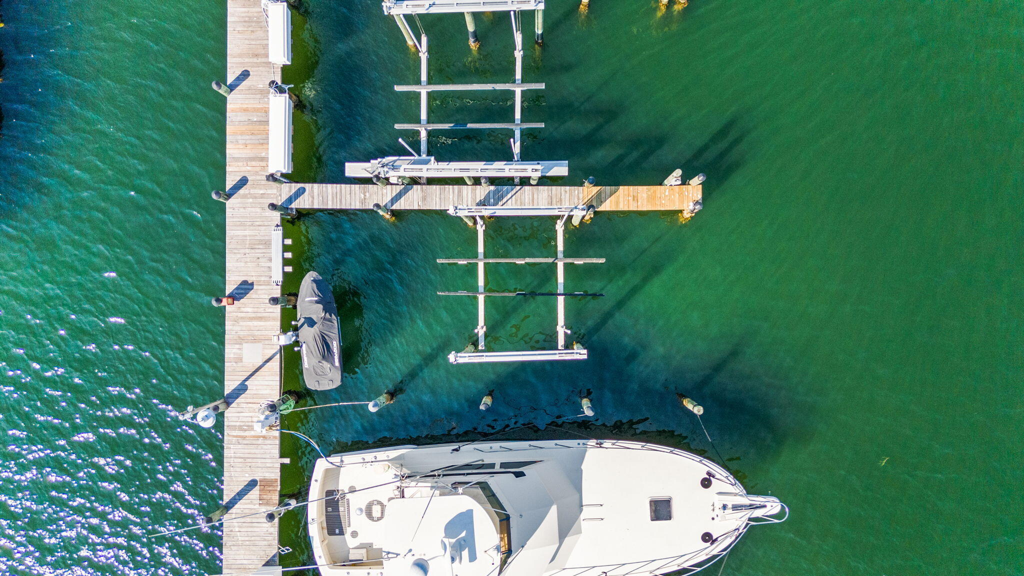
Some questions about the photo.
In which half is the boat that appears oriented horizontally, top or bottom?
bottom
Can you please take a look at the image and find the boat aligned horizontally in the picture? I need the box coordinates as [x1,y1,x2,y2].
[150,437,792,576]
